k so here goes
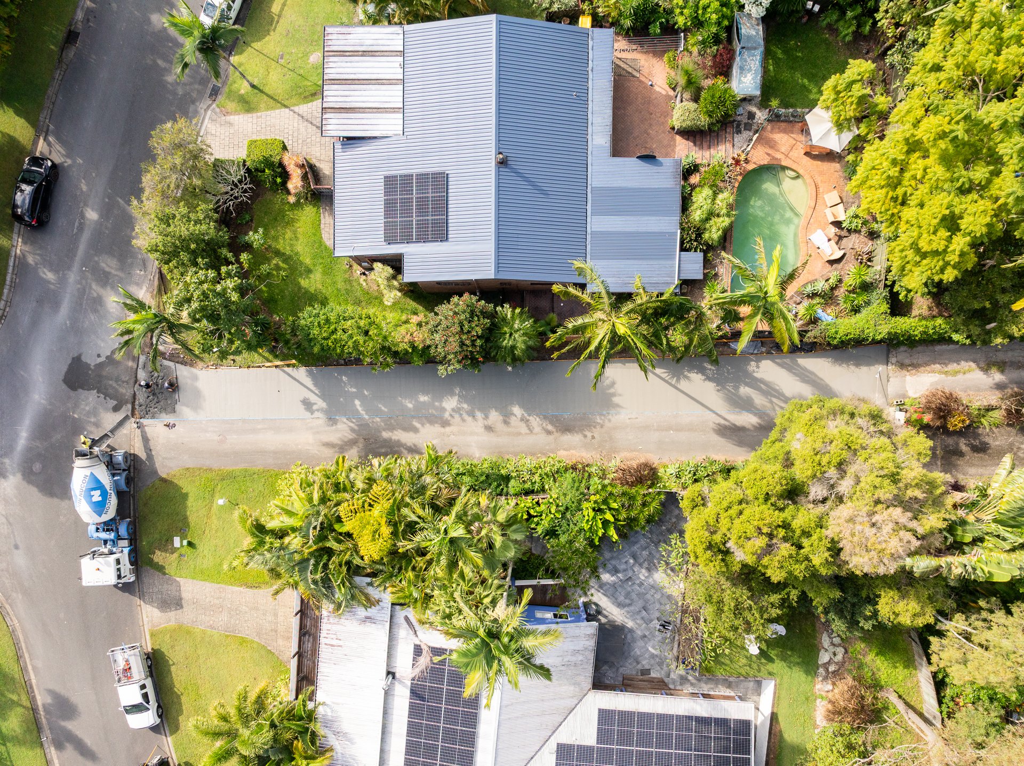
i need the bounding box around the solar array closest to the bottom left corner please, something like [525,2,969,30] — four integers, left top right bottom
[403,644,481,766]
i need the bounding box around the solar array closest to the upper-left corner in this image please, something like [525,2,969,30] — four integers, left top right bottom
[381,170,448,241]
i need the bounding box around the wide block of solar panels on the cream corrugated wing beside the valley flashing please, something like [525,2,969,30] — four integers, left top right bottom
[552,711,750,766]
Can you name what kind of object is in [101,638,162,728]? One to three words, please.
truck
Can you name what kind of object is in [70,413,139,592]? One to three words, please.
truck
